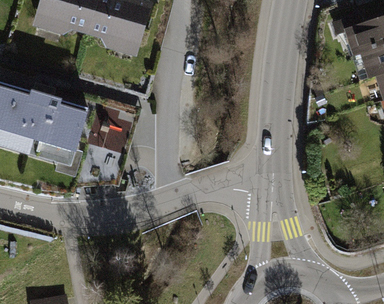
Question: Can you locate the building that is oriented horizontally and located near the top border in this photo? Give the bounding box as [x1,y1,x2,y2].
[33,0,154,56]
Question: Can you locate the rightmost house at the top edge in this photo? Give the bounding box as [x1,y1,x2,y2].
[328,14,384,104]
